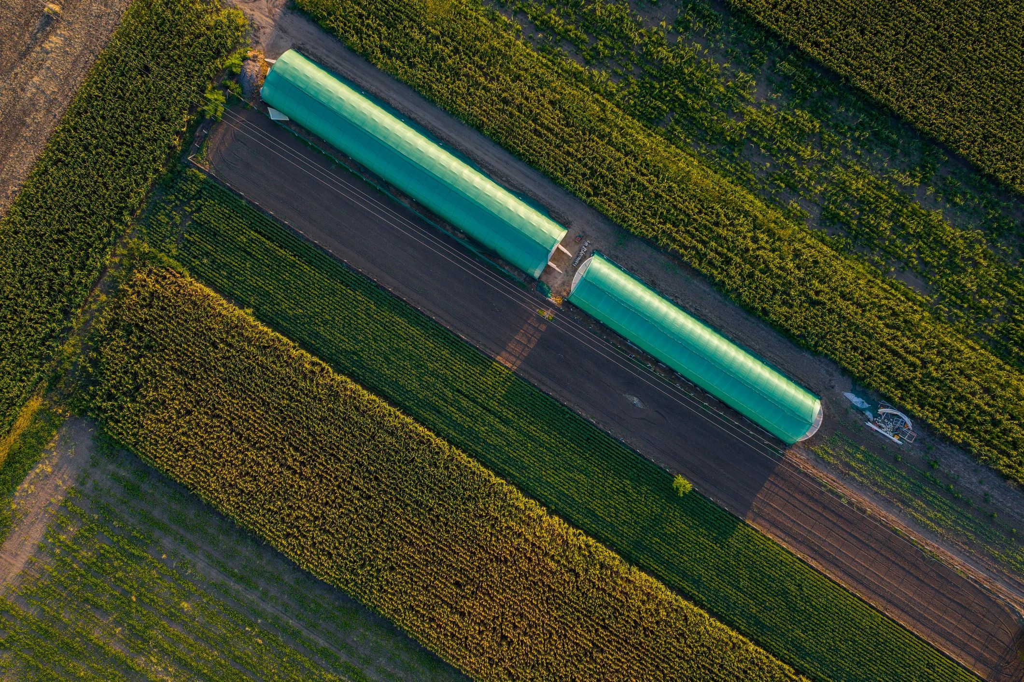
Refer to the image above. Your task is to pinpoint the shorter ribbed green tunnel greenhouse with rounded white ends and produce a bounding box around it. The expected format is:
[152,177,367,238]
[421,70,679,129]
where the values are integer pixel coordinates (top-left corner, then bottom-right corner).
[562,252,823,446]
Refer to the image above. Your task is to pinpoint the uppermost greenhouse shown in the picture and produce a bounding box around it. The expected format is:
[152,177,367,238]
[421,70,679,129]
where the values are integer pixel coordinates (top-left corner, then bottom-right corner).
[258,50,568,278]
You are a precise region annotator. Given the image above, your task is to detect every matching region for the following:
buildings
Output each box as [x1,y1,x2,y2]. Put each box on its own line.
[258,50,568,278]
[562,252,823,446]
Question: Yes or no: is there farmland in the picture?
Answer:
Yes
